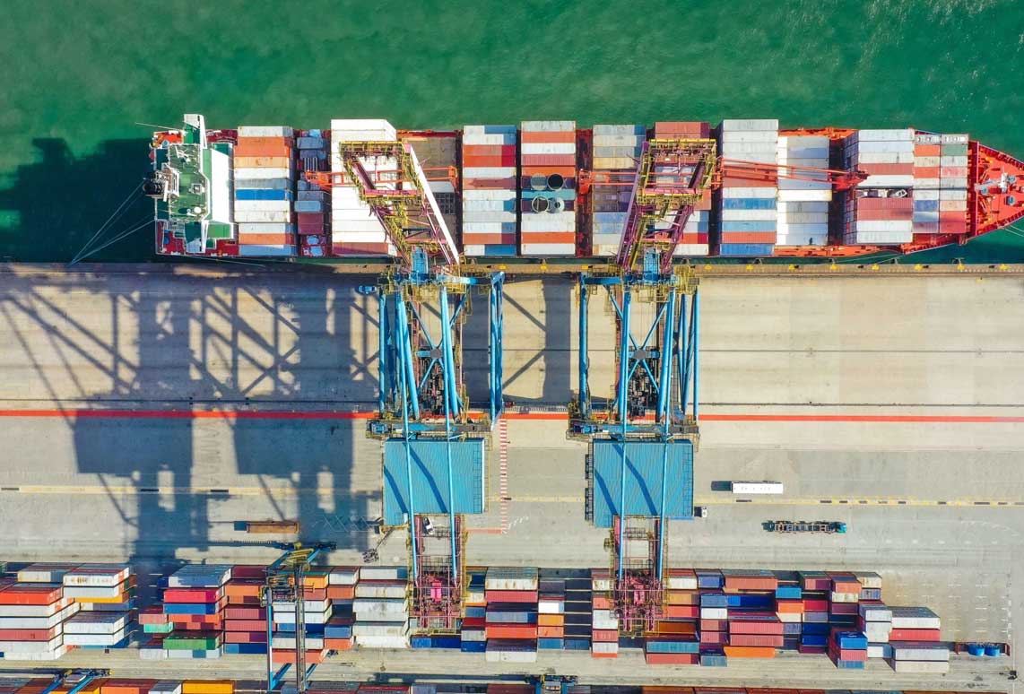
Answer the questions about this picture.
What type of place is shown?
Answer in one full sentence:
The picture captures a port.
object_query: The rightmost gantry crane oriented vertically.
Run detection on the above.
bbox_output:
[554,138,720,633]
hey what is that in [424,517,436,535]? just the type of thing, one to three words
vehicle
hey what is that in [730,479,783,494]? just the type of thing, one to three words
trailer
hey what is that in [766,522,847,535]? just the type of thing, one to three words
vehicle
